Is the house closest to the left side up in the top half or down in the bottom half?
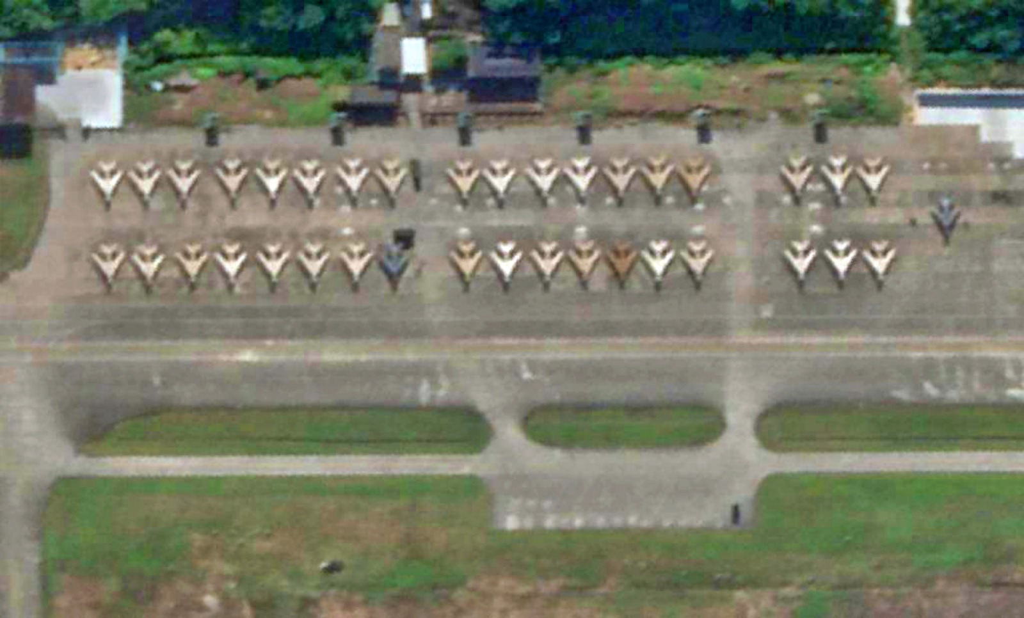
top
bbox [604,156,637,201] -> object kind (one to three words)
airplane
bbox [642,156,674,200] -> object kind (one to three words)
airplane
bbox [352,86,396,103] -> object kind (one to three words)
house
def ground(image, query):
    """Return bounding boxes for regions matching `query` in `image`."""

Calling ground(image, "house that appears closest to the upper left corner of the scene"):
[0,64,32,122]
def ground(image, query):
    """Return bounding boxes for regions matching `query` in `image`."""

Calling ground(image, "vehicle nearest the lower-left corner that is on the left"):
[320,560,344,572]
